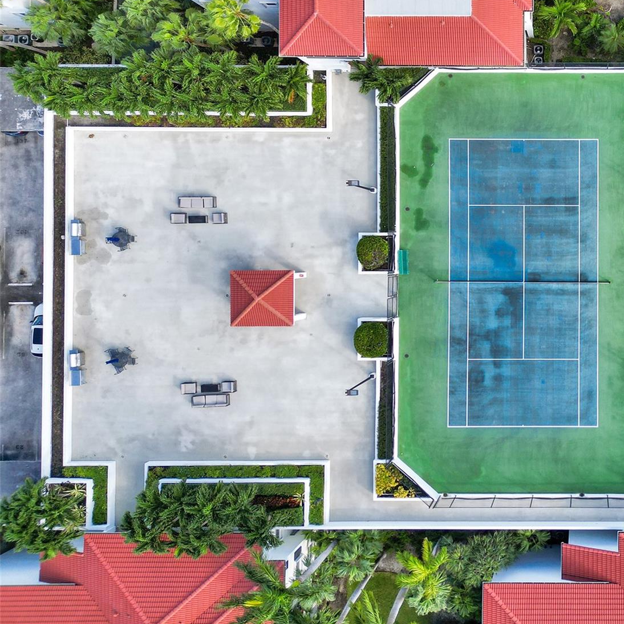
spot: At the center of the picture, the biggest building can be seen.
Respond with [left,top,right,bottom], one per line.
[228,268,310,329]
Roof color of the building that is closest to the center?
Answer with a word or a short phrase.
red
